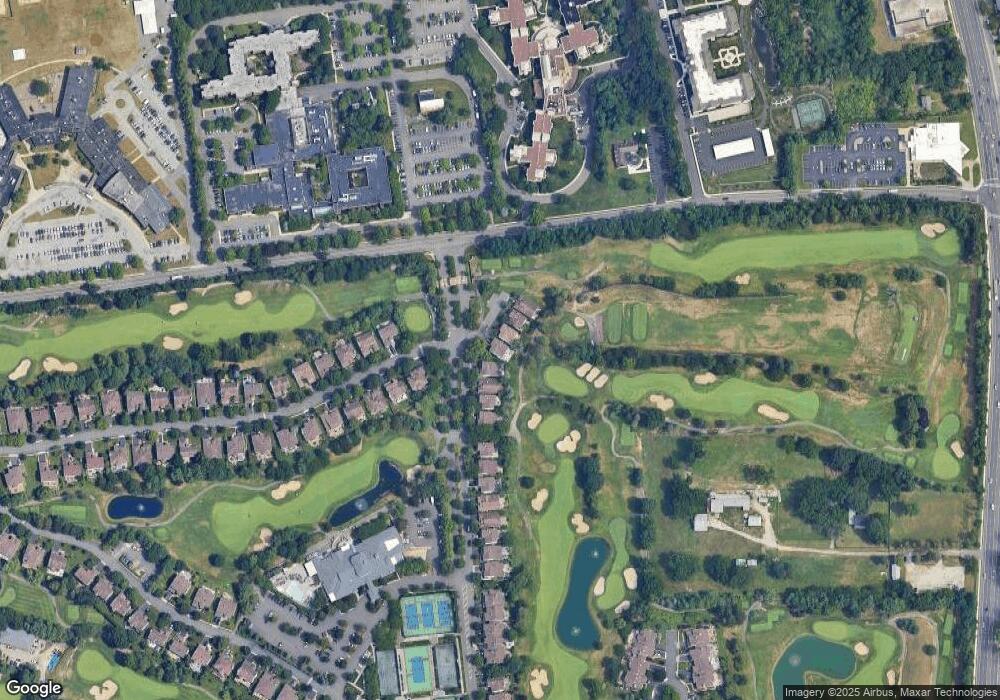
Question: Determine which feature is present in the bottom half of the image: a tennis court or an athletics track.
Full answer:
Looking in the bottom half of the image, you will find a tennis court.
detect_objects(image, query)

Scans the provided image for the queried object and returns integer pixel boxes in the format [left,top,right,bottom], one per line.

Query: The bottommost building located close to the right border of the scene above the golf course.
[911,123,970,176]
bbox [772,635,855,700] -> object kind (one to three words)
pond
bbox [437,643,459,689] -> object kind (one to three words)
tennis court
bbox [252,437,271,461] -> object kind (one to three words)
house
